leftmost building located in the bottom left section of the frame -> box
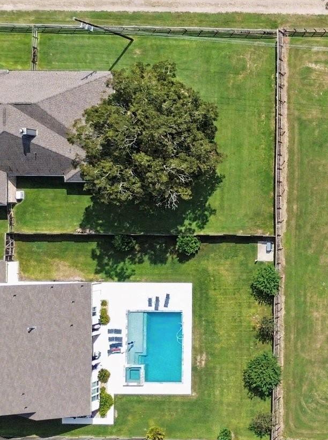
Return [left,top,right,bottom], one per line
[0,282,102,421]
